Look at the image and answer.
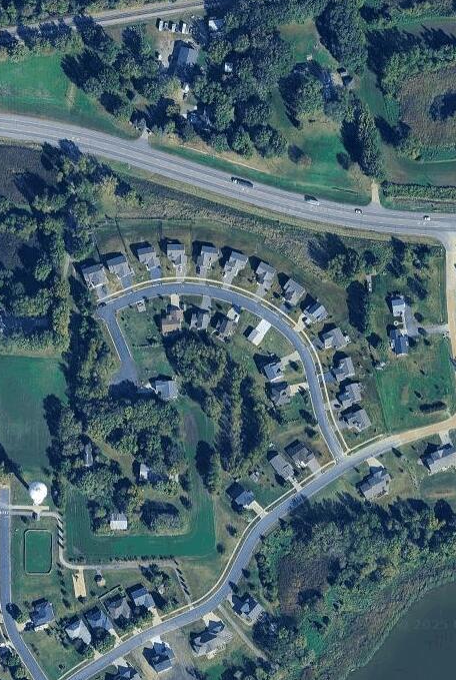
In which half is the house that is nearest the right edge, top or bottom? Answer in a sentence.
The bottom half of the photo is where the house that is nearest the right edge is.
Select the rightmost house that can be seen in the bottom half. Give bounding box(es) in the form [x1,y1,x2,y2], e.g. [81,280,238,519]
[424,446,456,473]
